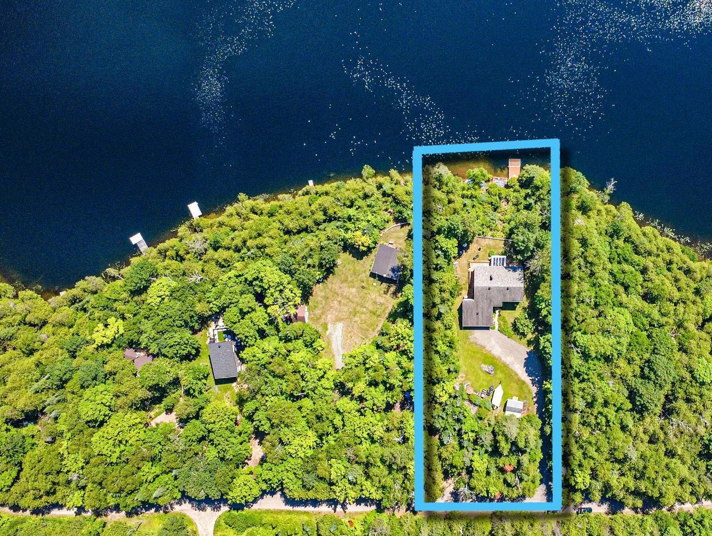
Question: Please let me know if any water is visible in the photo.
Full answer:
Yes, there is water in the image.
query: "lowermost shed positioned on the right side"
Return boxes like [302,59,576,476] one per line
[505,395,523,417]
